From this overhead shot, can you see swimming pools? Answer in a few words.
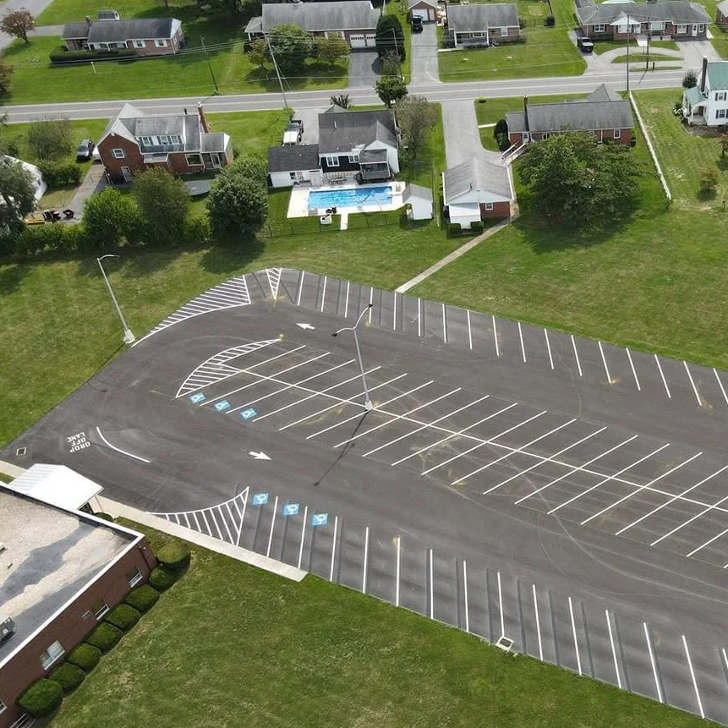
Yes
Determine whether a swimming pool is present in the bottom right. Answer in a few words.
No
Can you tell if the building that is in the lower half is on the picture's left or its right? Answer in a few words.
left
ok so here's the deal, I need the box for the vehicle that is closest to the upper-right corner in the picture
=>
[578,34,594,50]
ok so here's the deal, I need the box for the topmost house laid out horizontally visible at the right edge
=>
[580,0,710,40]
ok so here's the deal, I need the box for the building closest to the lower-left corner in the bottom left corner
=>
[0,476,156,718]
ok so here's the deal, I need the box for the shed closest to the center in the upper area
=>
[406,182,437,220]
